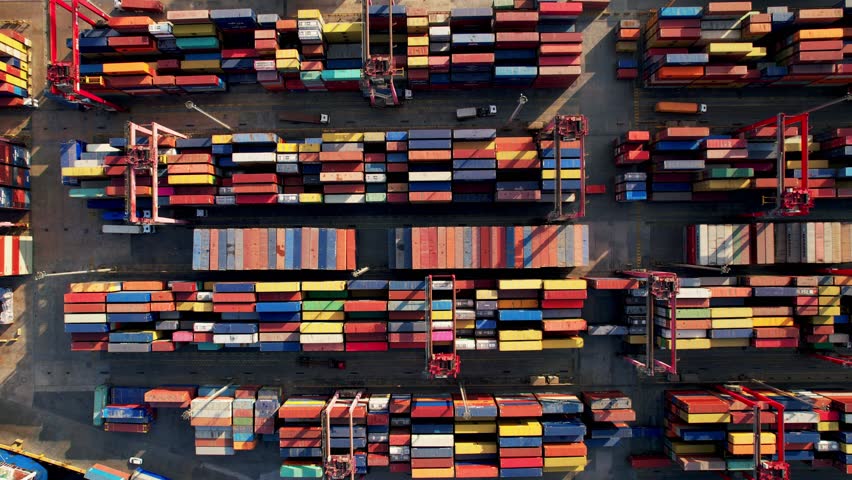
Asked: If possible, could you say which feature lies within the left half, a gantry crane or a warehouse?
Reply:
gantry crane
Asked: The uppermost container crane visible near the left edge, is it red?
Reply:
Yes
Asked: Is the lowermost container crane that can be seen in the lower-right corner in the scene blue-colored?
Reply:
No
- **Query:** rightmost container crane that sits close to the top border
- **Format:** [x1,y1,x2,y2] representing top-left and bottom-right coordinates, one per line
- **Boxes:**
[360,0,408,109]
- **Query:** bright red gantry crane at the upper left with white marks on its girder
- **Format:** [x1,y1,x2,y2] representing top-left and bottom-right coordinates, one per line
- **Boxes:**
[42,0,126,111]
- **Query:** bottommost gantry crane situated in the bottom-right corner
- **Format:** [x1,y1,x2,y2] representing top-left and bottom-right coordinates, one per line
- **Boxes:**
[710,380,793,480]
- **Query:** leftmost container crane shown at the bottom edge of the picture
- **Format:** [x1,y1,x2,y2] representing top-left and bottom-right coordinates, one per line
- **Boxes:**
[324,384,369,480]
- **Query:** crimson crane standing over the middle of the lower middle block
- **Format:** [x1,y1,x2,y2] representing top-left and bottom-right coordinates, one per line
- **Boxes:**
[424,269,462,382]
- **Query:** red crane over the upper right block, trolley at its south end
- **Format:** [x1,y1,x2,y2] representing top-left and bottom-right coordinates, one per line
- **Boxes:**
[727,109,814,220]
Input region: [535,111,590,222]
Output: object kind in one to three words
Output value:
container crane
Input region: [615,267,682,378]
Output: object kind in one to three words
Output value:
container crane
